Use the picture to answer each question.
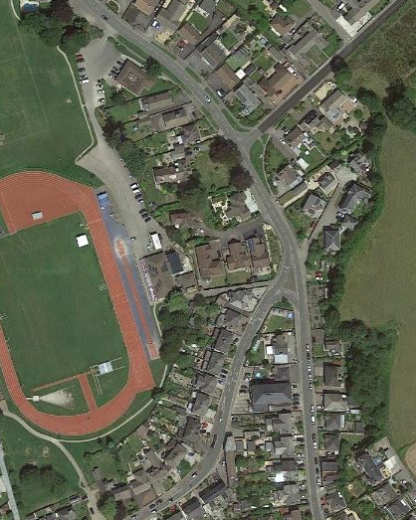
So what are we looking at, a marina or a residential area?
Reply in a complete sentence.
The picture captures a residential area.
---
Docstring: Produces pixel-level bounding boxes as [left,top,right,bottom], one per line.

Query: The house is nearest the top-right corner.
[348,0,380,20]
